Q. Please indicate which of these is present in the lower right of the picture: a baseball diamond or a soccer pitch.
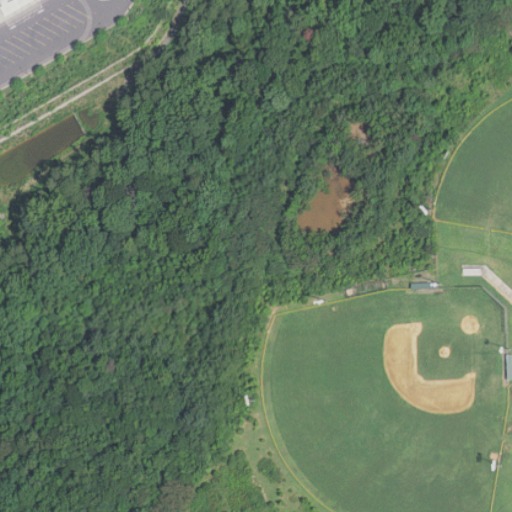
baseball diamond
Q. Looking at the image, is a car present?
No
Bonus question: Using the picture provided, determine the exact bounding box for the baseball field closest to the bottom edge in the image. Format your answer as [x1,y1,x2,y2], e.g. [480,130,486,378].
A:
[262,288,507,512]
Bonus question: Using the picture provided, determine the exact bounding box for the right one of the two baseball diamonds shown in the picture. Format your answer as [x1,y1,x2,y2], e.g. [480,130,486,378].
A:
[435,100,512,232]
